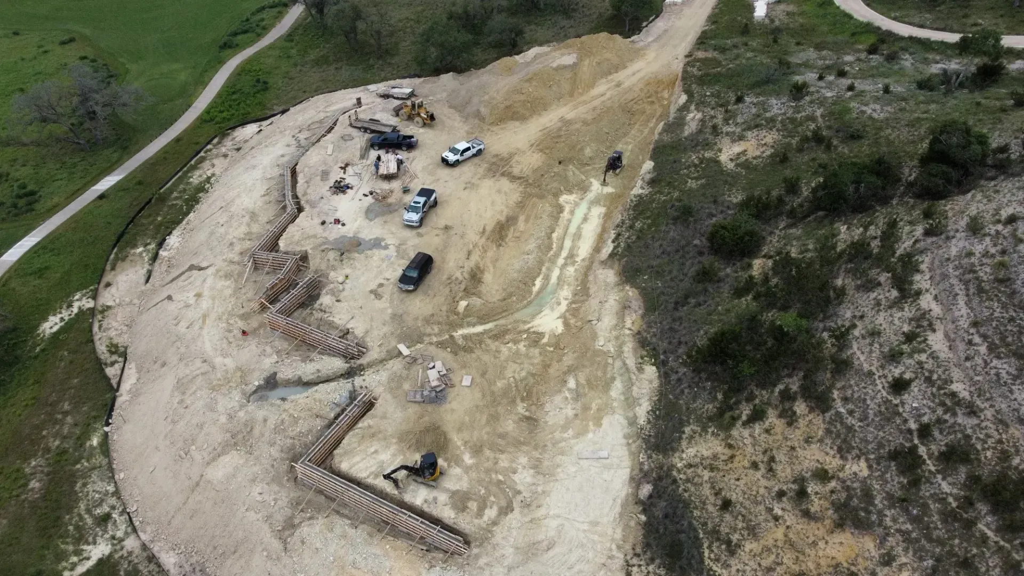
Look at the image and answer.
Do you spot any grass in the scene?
Yes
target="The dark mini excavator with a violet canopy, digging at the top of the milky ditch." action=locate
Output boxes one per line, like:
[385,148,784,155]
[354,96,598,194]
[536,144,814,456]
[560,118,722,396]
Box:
[604,148,629,181]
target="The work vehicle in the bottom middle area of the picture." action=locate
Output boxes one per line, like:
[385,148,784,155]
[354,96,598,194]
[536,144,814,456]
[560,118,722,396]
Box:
[370,456,442,491]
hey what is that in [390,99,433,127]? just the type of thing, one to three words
work vehicle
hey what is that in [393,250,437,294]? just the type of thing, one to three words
car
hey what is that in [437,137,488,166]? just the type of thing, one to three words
truck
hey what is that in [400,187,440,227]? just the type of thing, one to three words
truck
